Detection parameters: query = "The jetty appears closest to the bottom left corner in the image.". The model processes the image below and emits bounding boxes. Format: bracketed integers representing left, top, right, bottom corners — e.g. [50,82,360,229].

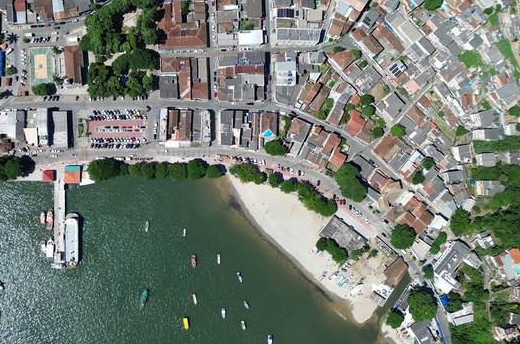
[53,179,67,268]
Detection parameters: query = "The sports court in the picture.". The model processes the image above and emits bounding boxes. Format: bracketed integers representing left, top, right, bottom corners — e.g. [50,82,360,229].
[29,46,53,83]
